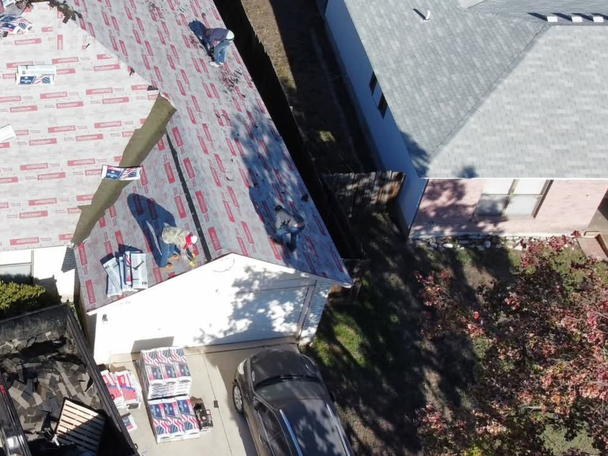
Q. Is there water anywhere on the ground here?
No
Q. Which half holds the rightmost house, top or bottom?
top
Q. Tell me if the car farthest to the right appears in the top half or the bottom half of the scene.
bottom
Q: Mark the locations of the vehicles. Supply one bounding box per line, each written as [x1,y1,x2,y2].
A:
[234,341,367,456]
[0,305,139,456]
